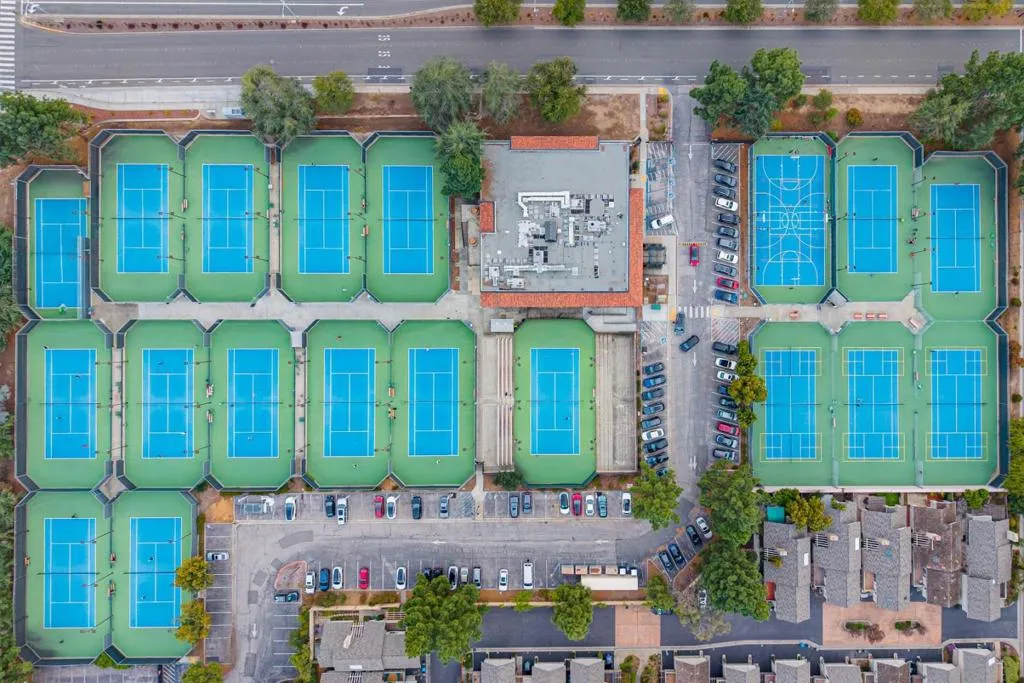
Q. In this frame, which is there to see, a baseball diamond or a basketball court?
basketball court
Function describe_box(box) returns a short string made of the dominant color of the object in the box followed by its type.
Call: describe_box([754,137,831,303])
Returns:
blue basketball court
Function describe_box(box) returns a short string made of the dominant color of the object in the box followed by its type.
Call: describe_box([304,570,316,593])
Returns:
white vehicle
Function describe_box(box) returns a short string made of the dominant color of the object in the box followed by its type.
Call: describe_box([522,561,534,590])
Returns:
white vehicle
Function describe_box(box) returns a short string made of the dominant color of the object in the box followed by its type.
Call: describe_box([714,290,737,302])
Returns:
blue vehicle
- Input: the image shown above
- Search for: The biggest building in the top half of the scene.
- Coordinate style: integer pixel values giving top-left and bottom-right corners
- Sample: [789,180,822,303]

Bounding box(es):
[479,136,643,307]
